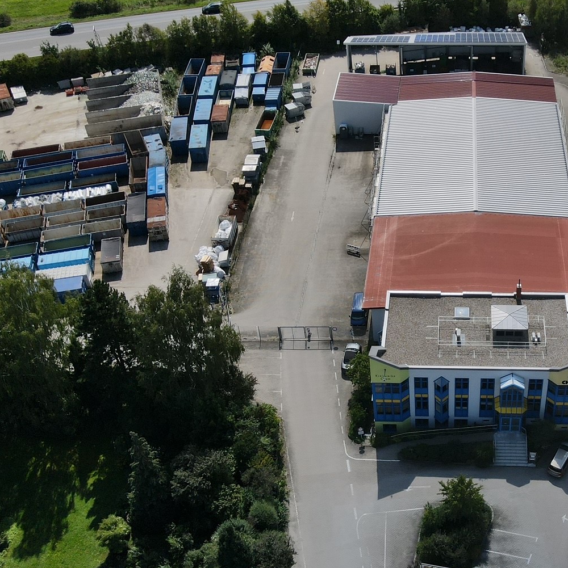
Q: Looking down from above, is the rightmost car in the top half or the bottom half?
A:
bottom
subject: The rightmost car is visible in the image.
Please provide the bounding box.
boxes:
[545,437,568,478]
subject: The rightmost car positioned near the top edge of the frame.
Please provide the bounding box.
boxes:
[201,0,226,13]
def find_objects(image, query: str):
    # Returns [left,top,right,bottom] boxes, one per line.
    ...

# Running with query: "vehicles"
[49,22,74,36]
[341,338,362,373]
[348,286,366,325]
[545,437,568,478]
[201,0,226,13]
